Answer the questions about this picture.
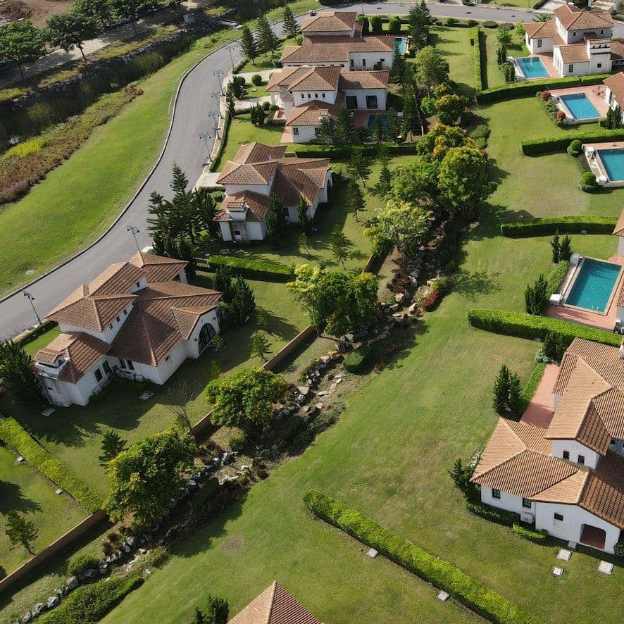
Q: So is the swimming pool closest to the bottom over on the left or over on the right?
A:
right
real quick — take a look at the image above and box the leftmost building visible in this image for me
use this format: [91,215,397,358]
[21,250,229,409]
